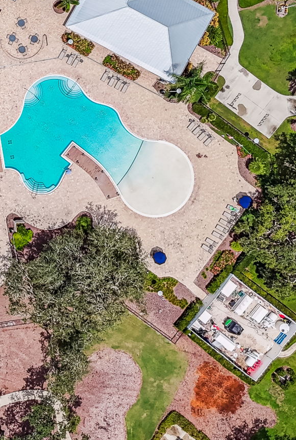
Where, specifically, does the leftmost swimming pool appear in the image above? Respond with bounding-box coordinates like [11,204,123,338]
[0,72,196,217]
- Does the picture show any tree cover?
Yes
